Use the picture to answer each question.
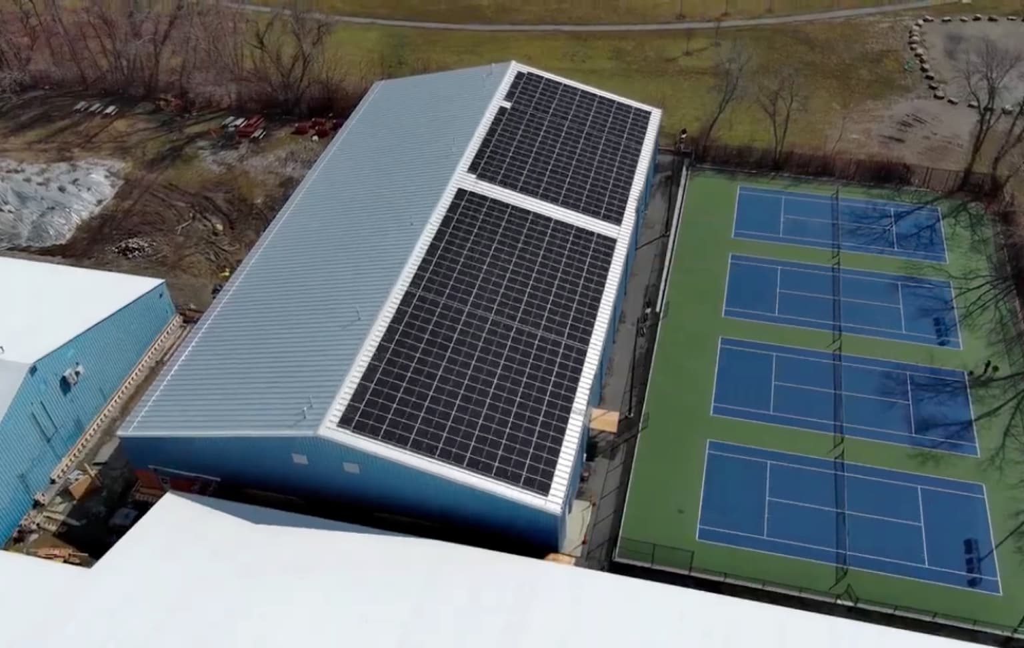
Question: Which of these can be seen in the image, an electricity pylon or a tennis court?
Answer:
tennis court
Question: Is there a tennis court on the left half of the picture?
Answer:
No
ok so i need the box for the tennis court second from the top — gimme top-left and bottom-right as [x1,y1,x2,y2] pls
[724,254,961,347]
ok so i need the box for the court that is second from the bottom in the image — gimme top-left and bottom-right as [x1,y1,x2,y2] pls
[713,337,978,455]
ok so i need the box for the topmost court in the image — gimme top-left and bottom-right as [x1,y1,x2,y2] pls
[734,186,947,262]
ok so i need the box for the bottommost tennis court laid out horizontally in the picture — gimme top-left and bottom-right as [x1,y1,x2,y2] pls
[698,440,1001,592]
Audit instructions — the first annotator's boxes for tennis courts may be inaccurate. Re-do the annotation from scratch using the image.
[698,440,1001,592]
[734,186,947,262]
[724,254,961,347]
[713,337,978,455]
